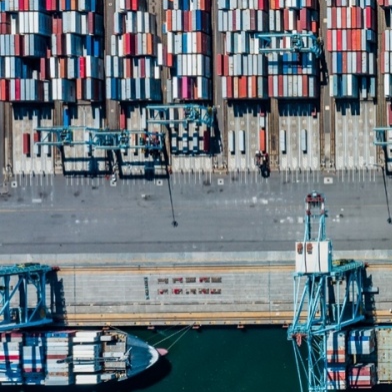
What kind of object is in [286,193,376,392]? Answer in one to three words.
container crane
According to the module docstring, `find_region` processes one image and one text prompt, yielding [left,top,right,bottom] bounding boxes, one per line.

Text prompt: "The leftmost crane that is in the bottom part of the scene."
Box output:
[0,260,69,346]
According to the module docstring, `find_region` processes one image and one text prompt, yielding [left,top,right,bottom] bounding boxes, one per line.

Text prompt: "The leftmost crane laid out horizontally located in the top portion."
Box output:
[30,125,108,152]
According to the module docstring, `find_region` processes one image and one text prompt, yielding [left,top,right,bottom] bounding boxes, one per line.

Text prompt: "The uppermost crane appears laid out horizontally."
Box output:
[257,33,325,64]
